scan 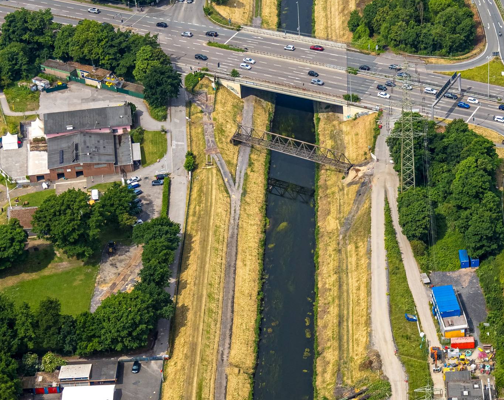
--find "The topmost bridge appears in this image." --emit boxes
[204,23,379,119]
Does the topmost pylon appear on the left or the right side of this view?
right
